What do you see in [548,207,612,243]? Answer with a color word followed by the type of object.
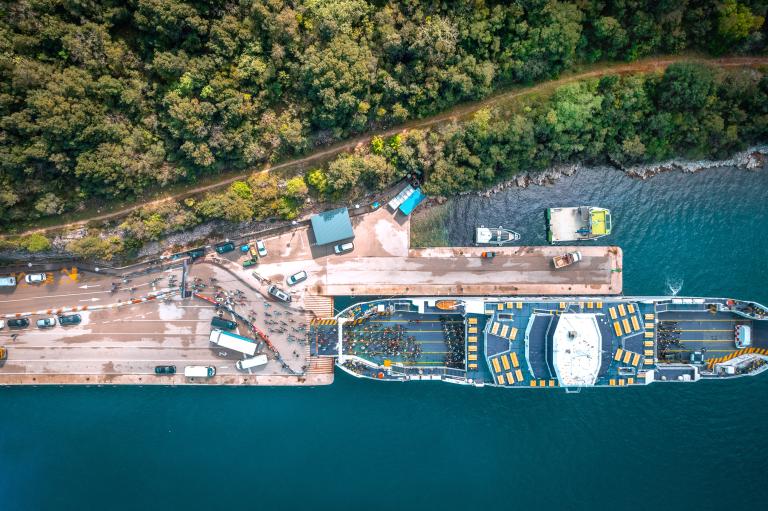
white vessel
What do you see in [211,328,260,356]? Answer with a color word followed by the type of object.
white truck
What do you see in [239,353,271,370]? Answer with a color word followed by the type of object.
white vehicle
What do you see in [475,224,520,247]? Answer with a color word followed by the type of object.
white boat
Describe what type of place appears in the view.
port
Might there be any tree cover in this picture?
Yes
